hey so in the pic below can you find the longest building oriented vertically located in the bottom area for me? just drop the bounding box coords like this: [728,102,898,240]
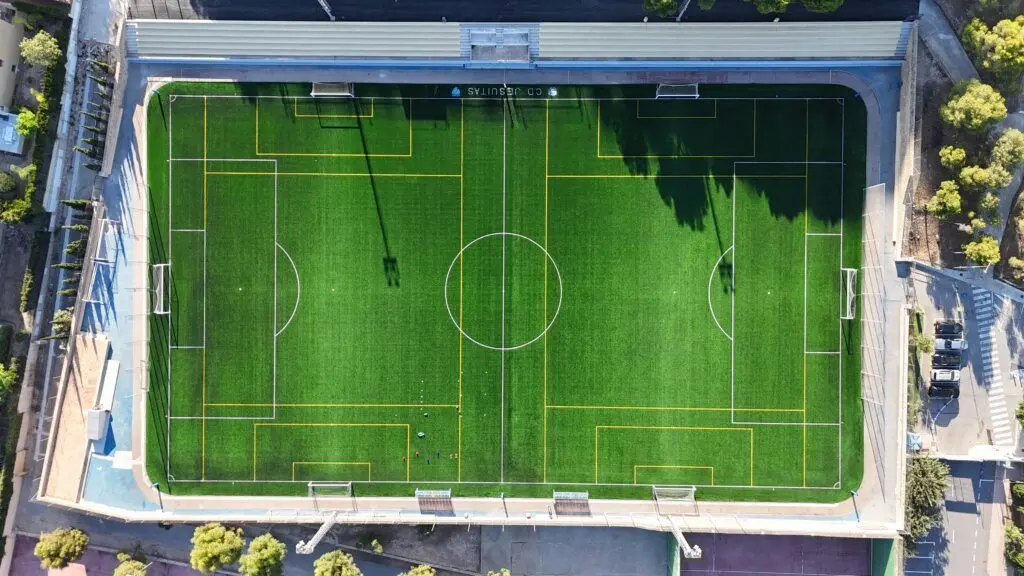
[47,335,111,503]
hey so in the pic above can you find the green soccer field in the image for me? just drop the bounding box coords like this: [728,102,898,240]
[145,81,865,505]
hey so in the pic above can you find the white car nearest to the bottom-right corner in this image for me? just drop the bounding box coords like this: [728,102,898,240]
[930,369,959,383]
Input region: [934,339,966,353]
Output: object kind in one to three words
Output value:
car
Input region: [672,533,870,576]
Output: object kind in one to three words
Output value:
sports court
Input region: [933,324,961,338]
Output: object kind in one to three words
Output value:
car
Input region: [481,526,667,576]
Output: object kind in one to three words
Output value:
sports court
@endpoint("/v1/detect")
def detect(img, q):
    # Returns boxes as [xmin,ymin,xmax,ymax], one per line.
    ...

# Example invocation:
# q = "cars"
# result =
[933,324,961,338]
[928,385,958,399]
[934,339,966,353]
[931,353,960,367]
[930,369,959,383]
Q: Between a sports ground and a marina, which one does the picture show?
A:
sports ground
